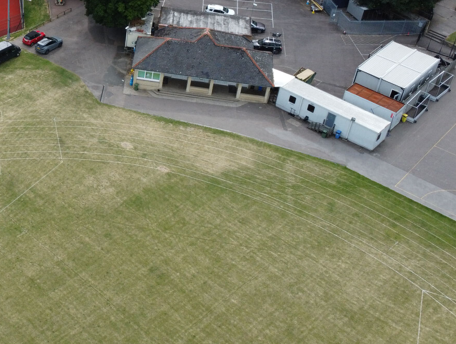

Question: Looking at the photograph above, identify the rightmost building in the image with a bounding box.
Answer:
[354,40,445,109]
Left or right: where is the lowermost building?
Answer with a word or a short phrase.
right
